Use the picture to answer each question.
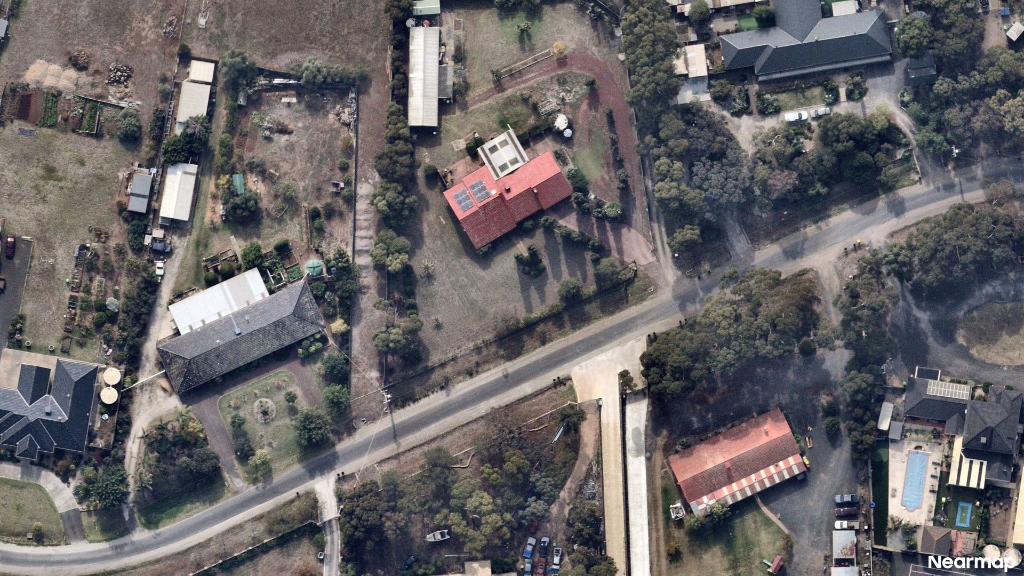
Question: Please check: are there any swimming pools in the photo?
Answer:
Yes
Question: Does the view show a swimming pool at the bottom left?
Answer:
No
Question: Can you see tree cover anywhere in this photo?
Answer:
Yes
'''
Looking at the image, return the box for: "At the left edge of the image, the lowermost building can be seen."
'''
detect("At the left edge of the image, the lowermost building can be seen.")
[0,359,100,462]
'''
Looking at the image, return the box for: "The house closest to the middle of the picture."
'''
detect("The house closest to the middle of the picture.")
[443,148,574,249]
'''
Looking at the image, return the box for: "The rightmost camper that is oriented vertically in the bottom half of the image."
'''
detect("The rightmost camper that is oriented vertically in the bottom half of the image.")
[877,398,894,430]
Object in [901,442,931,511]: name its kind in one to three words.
swimming pool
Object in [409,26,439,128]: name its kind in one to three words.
shed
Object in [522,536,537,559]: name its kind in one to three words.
car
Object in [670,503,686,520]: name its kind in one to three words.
gazebo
